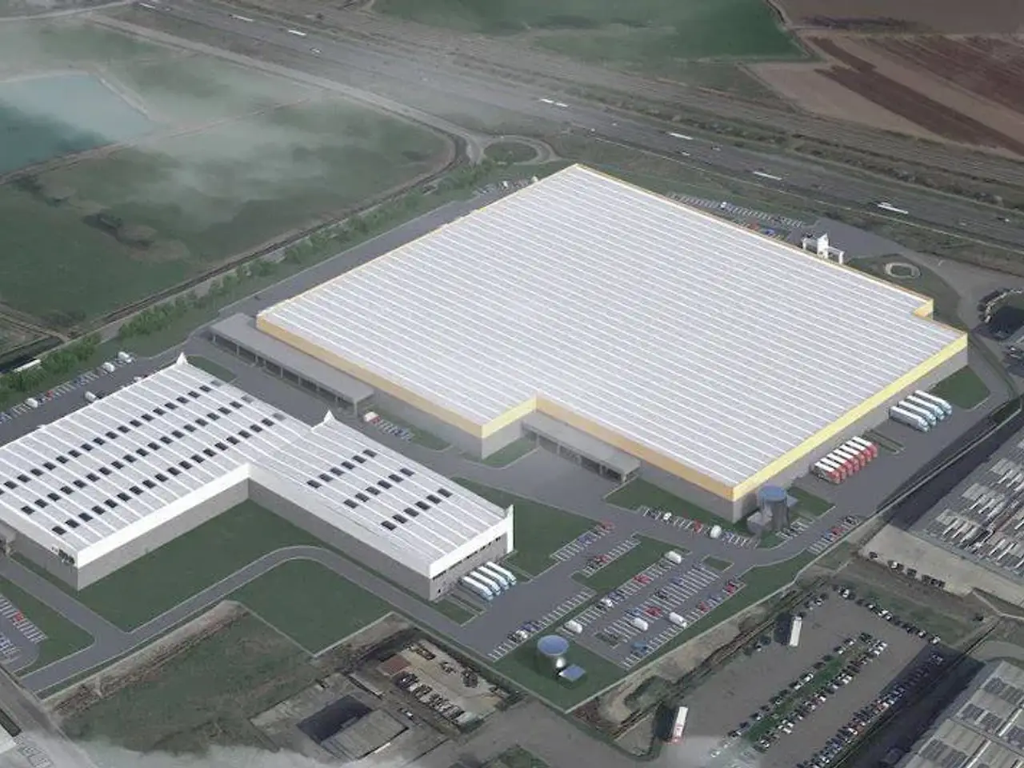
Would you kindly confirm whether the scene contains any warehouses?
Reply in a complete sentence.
Yes, a warehouse appears in the view.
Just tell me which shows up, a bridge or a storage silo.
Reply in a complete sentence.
Of the two, only a storage silo appears.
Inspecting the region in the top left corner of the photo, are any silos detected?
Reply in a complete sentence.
No, the scene shows no silo in the top left corner of the photo.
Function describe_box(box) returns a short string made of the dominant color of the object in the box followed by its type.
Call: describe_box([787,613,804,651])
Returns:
white vehicle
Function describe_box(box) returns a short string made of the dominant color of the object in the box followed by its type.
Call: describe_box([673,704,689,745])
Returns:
white vehicle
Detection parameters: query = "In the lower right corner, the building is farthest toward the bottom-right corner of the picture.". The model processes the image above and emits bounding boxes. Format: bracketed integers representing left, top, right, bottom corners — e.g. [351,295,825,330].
[892,661,1024,768]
